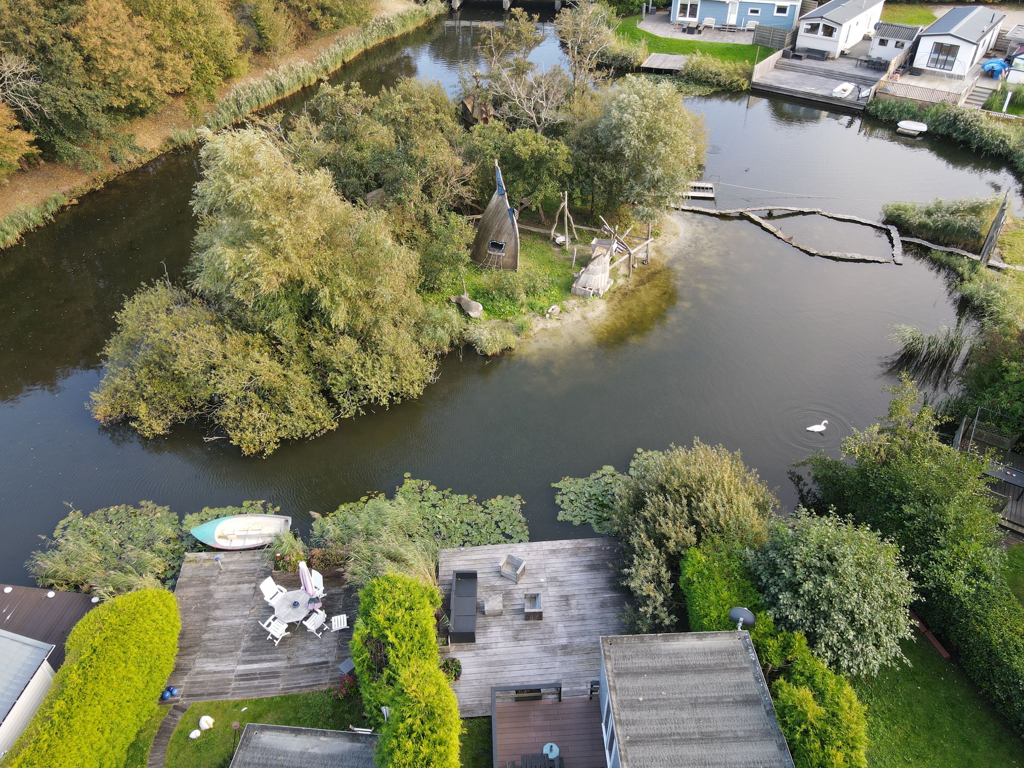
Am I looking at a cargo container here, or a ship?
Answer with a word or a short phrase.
ship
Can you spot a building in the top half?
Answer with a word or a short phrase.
Yes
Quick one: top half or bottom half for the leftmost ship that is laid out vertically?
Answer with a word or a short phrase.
top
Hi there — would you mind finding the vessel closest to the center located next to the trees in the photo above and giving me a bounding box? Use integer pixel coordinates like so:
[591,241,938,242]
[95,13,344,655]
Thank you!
[471,159,520,273]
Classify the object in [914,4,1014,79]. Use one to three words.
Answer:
house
